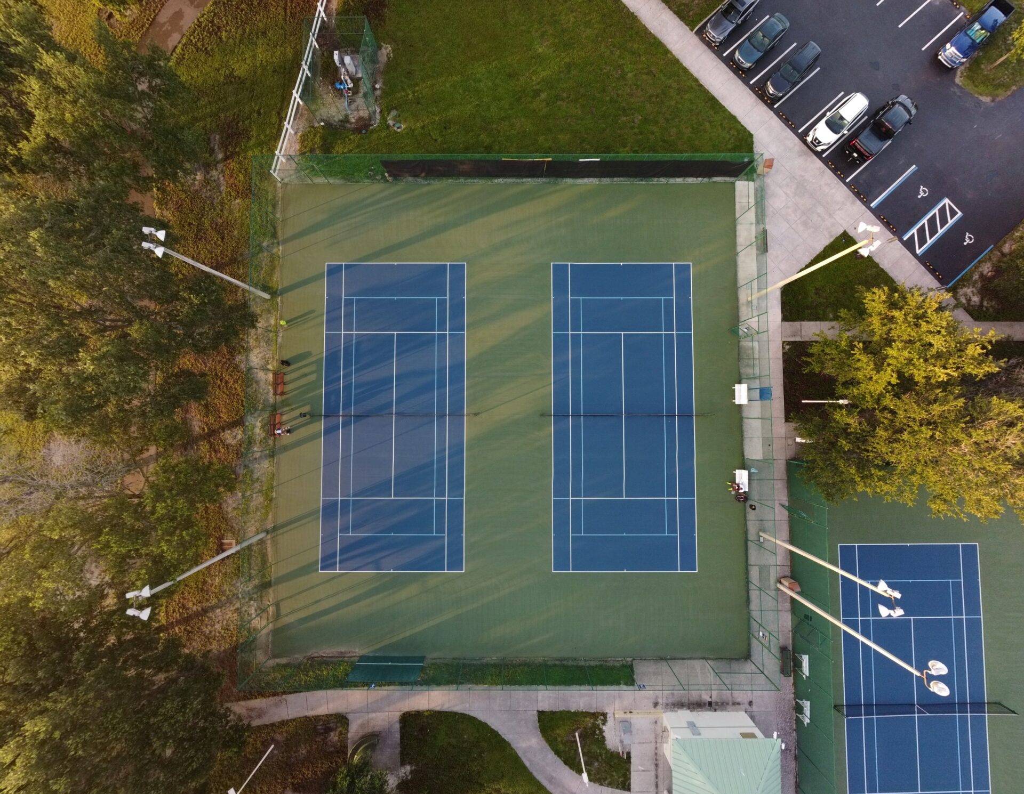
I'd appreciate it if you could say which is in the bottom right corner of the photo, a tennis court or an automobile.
tennis court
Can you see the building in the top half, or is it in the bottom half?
bottom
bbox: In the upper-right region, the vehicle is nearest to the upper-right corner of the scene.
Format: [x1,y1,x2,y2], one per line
[933,0,1013,73]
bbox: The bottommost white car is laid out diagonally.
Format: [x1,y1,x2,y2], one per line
[807,92,873,154]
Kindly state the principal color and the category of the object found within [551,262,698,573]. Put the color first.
blue tennis court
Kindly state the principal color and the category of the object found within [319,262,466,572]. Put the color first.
blue tennis court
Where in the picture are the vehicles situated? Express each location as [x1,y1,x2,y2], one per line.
[933,0,1013,73]
[843,95,920,165]
[807,92,873,154]
[704,0,765,47]
[765,43,828,106]
[734,14,795,73]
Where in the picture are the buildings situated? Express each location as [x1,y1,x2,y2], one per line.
[663,711,787,794]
